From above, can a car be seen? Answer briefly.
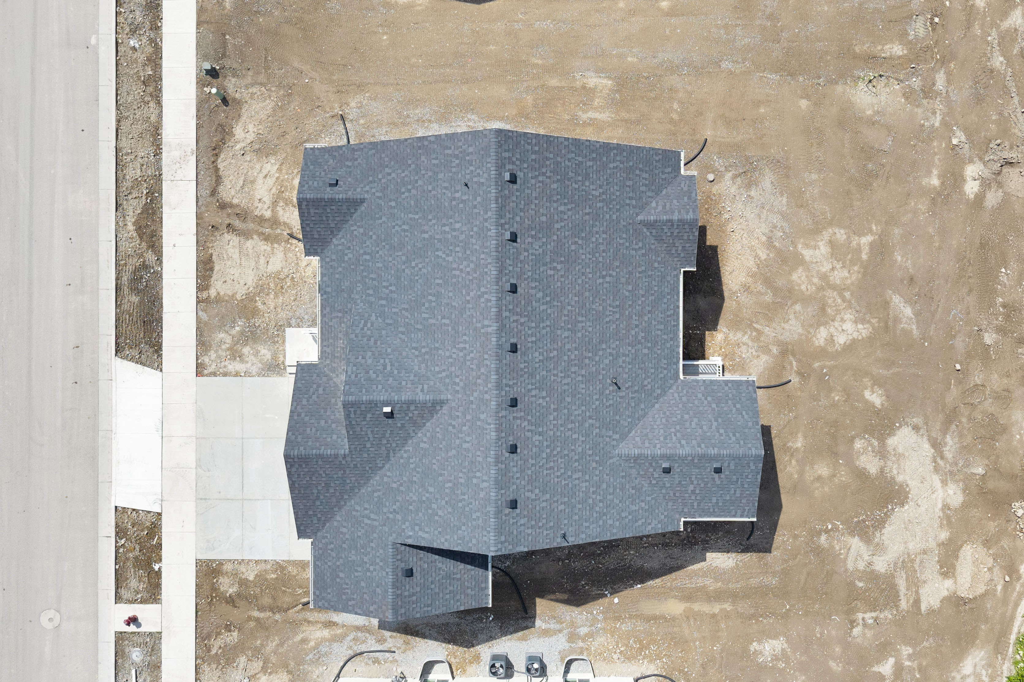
No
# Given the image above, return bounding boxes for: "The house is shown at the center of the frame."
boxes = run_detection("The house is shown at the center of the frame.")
[284,128,764,622]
